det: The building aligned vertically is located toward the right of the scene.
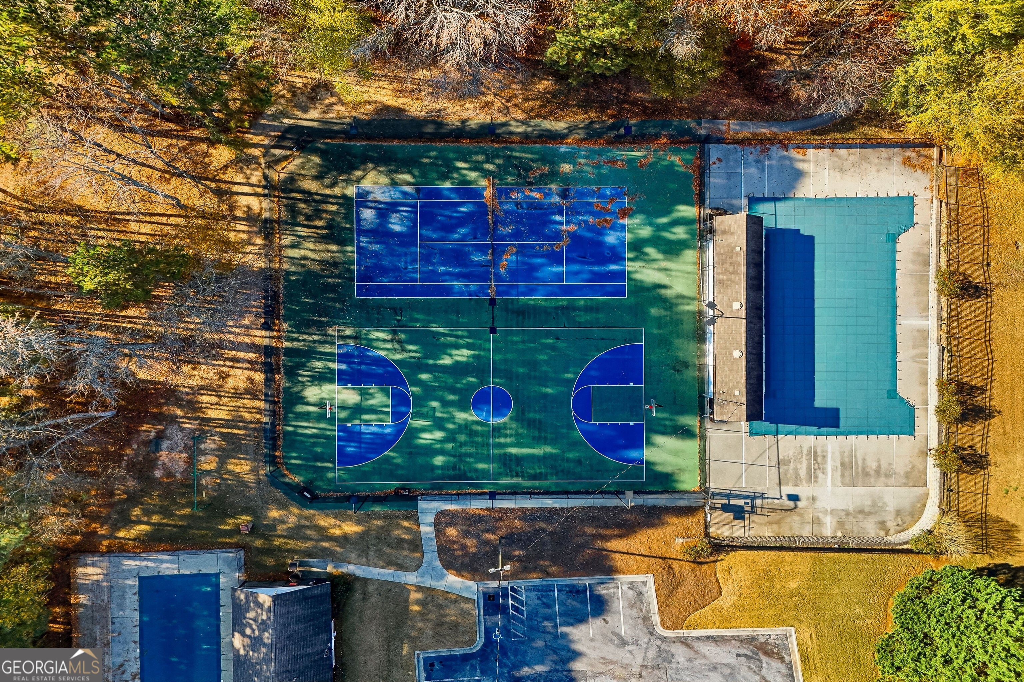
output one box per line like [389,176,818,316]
[707,214,766,422]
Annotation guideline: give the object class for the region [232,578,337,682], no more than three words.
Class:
building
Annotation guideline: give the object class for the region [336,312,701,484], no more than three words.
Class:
basketball court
